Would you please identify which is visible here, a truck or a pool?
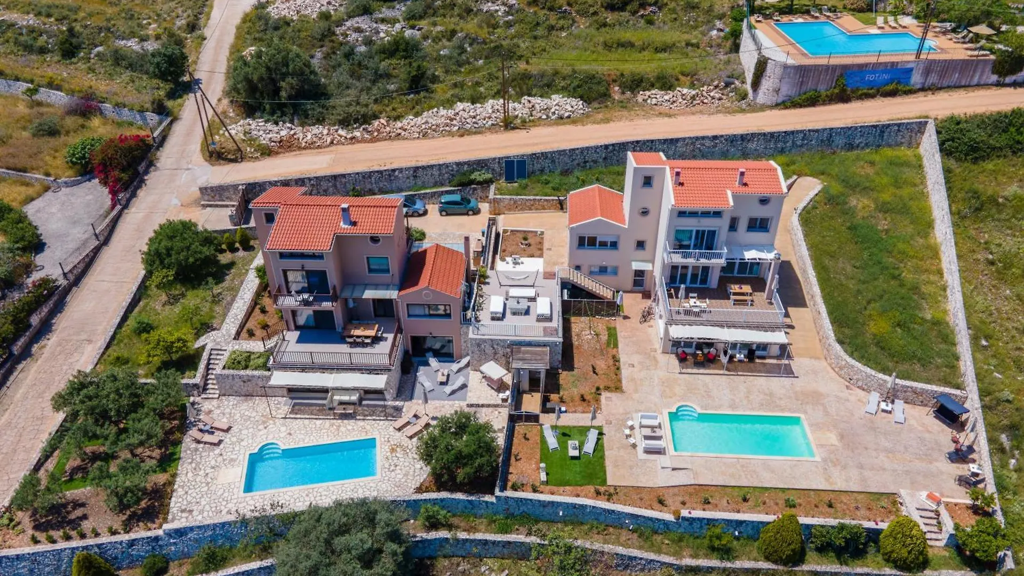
pool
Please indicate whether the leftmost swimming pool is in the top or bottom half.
bottom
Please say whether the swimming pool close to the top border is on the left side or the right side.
right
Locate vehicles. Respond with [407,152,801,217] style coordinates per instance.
[437,194,480,216]
[391,195,431,218]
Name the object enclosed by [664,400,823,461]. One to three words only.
swimming pool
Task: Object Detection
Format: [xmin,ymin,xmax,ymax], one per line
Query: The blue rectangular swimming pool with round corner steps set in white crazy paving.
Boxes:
[237,433,382,497]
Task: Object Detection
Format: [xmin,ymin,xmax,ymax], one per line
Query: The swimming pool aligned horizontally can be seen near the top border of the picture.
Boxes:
[767,19,949,57]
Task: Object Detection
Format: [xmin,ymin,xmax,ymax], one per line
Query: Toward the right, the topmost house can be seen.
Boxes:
[563,151,799,354]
